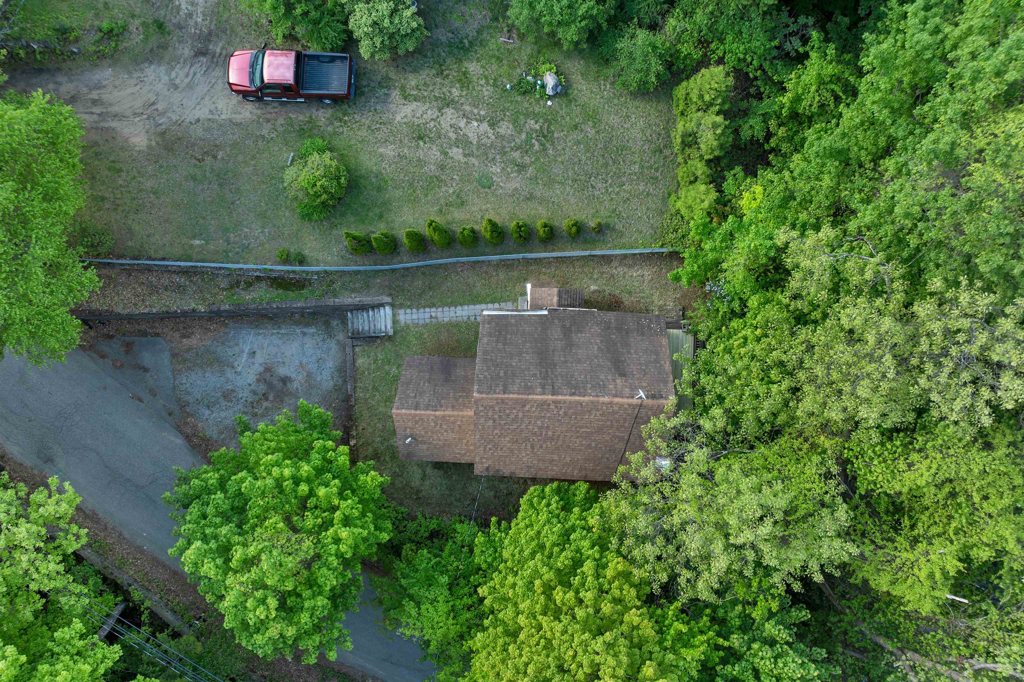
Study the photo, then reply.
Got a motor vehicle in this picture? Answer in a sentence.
Yes, the photo shows a motor vehicle.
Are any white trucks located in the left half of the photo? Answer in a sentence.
No, the scene shows no white truck in the left half of the photo.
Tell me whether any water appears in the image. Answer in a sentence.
No, water can't be seen anywhere here.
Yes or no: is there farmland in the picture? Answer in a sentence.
No, the scene doesn't show any farmland.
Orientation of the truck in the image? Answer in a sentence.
From this overhead view, the truck appears to run horizontally.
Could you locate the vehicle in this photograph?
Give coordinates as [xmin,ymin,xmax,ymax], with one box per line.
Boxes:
[225,38,356,101]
